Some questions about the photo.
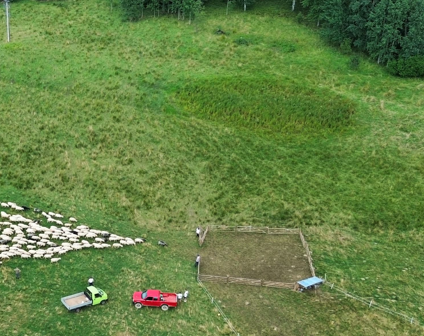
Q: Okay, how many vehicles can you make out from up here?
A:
2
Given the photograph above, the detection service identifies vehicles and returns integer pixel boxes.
[130,289,176,311]
[58,286,108,312]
